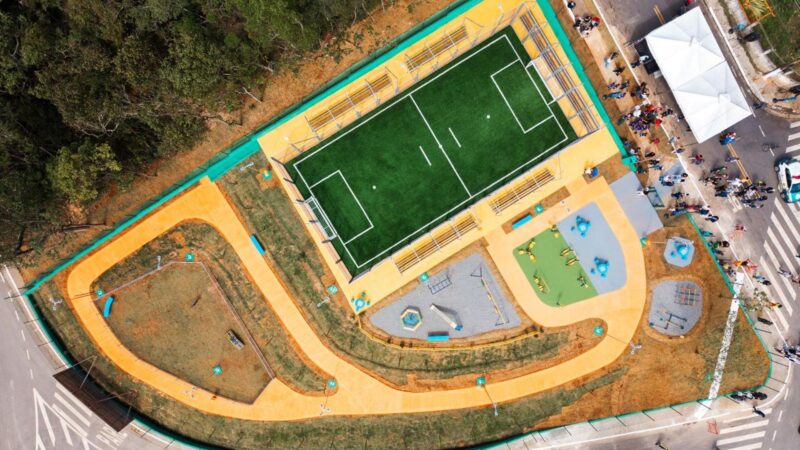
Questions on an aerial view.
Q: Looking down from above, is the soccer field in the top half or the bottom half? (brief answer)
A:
top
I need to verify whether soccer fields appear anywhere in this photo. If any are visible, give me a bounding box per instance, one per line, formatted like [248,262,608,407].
[257,0,620,312]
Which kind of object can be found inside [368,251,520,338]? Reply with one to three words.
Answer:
playground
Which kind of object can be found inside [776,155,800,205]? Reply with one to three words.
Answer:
car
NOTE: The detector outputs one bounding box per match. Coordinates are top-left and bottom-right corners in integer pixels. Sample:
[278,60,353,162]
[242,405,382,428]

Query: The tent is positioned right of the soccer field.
[628,6,752,148]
